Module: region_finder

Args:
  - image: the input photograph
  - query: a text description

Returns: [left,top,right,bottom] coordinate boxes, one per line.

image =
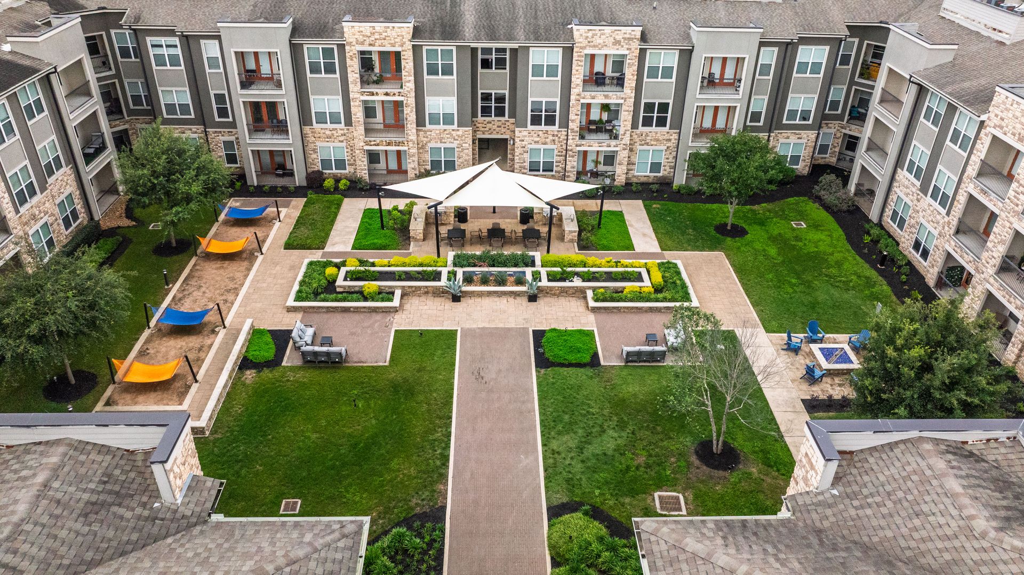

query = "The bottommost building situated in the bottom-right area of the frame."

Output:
[627,416,1024,575]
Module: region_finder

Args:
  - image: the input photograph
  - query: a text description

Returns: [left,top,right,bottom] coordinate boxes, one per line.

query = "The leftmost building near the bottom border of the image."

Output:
[0,408,375,575]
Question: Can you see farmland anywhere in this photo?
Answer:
No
